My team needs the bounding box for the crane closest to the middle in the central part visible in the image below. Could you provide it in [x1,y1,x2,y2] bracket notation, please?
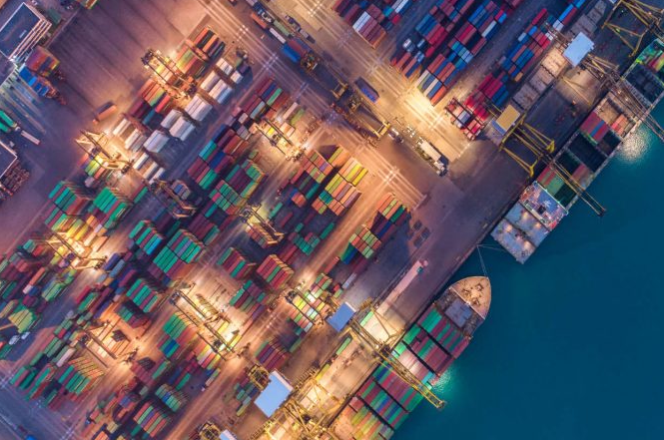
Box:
[244,208,293,246]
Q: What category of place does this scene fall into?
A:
port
